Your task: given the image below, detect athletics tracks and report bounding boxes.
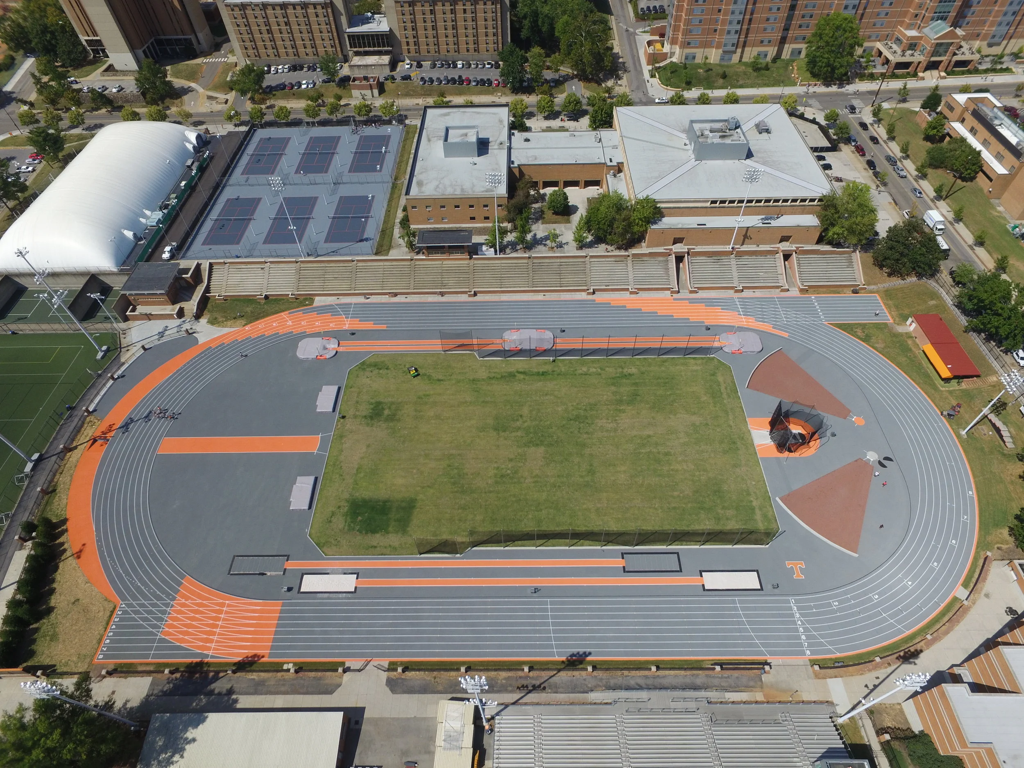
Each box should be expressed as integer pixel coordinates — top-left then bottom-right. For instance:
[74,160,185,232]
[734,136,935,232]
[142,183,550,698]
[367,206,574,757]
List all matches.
[67,293,981,664]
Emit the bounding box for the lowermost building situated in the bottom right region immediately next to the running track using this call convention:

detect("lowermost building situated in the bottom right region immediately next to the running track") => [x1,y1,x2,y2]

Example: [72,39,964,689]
[903,619,1024,768]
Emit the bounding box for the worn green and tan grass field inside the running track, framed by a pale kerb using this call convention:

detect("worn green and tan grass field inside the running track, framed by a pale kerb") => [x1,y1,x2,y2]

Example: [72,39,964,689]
[307,352,780,557]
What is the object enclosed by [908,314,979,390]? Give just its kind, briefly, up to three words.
shed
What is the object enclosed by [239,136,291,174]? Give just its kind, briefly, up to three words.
tennis court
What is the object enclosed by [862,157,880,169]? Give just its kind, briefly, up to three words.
vehicle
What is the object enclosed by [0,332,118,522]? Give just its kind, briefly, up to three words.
sports field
